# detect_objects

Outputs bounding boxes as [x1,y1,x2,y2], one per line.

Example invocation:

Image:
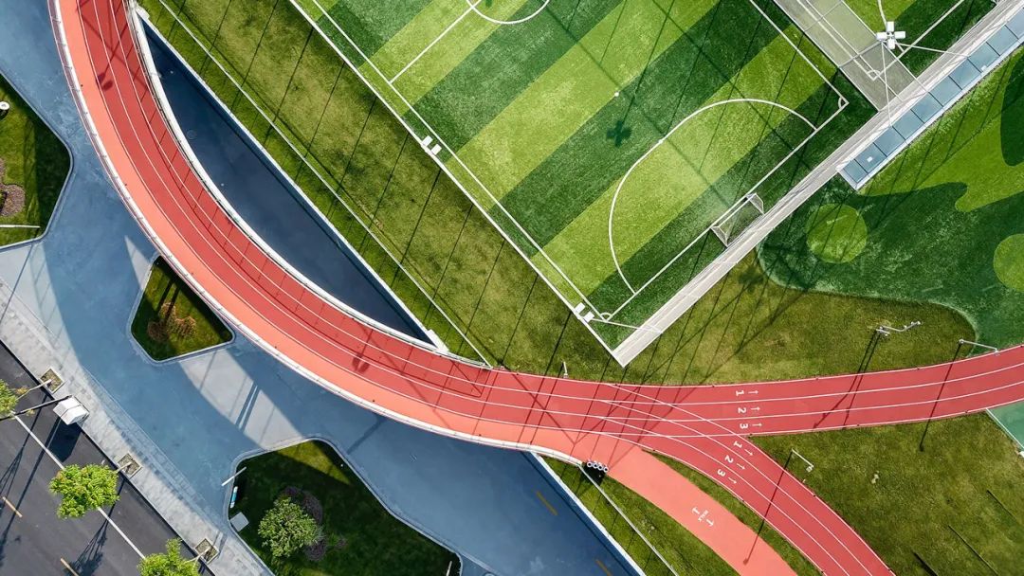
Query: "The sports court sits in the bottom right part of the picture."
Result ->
[984,399,1024,450]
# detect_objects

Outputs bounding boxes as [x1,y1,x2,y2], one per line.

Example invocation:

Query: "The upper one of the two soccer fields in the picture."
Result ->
[786,0,1007,111]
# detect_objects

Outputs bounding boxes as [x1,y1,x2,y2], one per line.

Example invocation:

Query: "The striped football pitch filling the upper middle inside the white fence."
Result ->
[295,0,879,351]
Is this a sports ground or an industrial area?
sports ground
